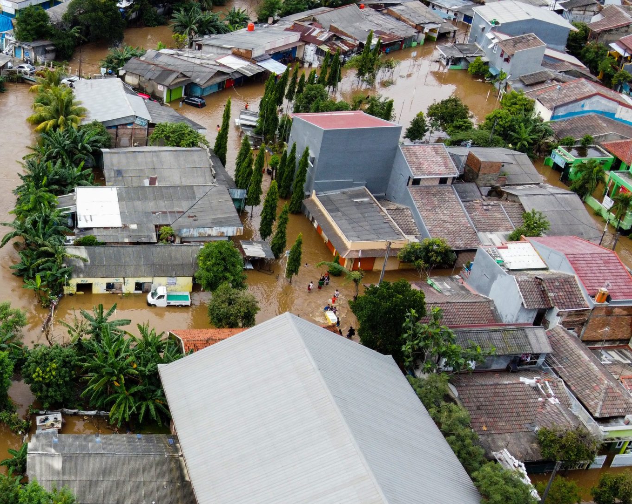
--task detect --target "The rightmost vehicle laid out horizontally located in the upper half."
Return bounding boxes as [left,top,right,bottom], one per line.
[179,95,211,108]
